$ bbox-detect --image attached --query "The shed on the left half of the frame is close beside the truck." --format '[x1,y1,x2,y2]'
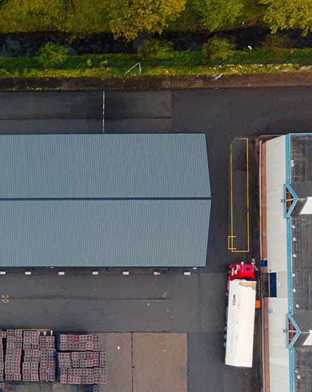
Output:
[0,133,211,268]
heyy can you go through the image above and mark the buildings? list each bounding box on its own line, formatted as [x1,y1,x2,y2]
[0,133,211,268]
[257,125,312,392]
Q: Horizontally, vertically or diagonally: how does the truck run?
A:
vertically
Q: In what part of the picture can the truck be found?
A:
bottom right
